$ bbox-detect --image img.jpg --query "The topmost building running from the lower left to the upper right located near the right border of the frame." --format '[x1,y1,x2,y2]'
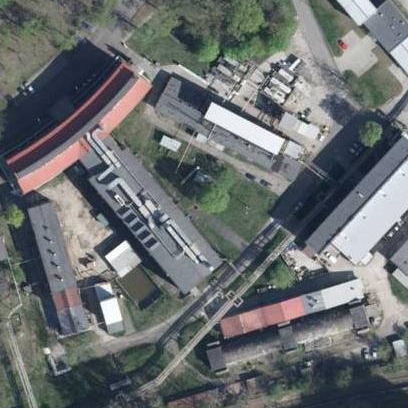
[300,130,408,268]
